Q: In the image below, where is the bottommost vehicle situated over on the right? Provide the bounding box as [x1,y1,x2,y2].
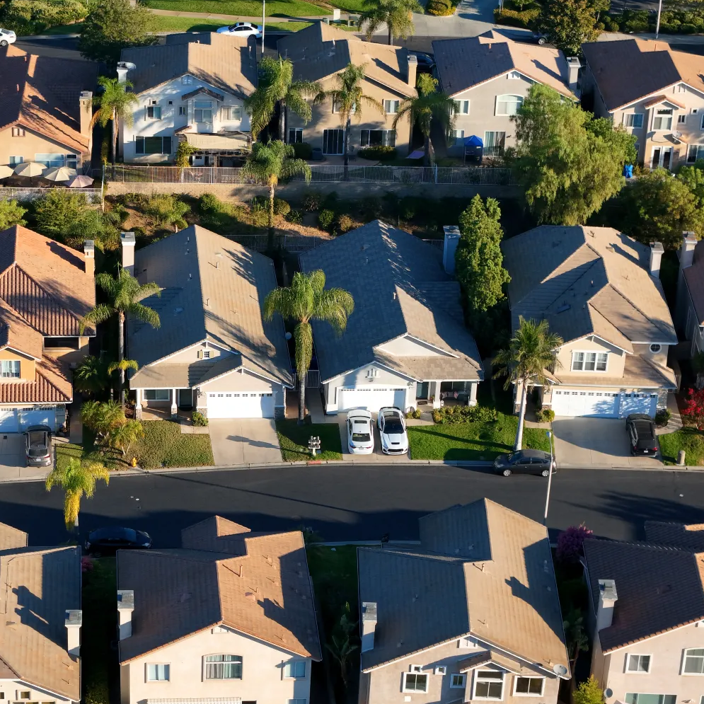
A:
[492,449,558,480]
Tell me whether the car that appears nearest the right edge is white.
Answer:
No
